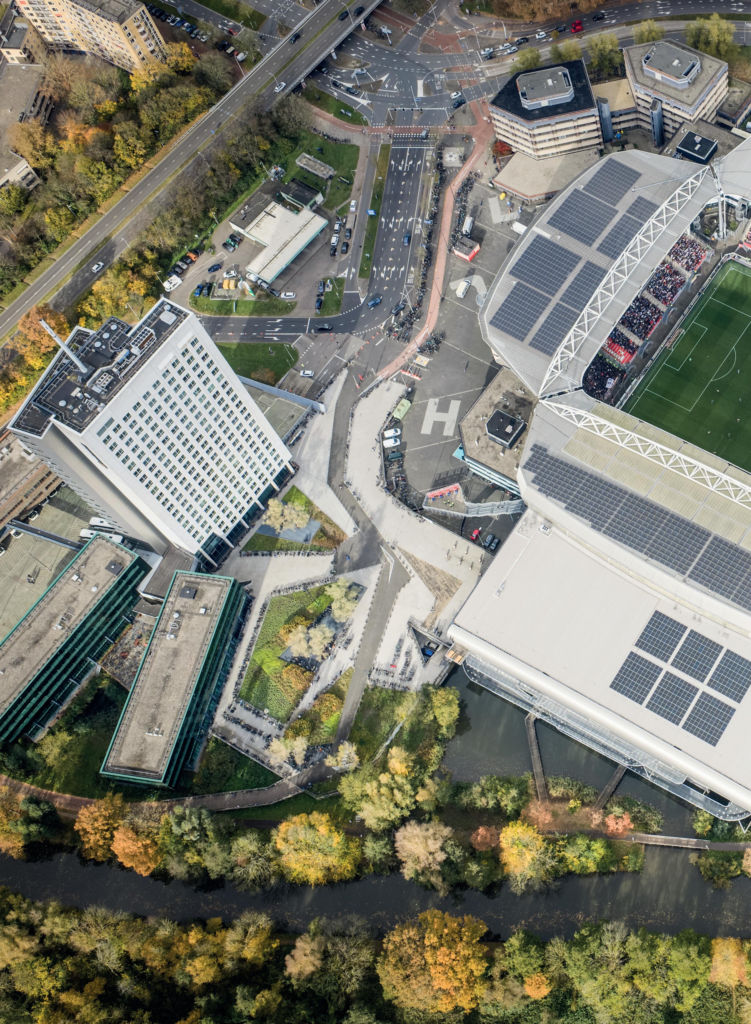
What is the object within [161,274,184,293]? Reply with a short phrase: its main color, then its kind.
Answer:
white camper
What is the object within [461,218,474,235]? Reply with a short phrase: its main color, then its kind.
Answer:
white vehicle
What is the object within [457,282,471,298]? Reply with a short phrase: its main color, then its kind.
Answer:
white vehicle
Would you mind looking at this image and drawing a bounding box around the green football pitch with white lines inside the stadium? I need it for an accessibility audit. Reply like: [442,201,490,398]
[620,261,751,477]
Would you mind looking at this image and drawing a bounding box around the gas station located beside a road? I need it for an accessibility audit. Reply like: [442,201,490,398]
[228,192,330,284]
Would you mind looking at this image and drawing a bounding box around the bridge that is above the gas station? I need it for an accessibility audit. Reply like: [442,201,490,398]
[218,0,388,122]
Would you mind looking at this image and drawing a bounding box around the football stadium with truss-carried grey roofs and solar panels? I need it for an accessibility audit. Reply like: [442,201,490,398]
[480,136,751,636]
